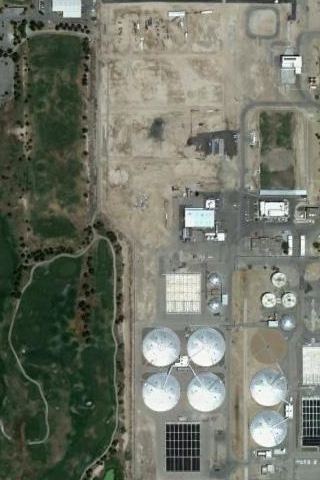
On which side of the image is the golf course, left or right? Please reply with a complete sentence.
The golf course appears in the left half of the scene.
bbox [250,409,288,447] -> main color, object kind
white storage tank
